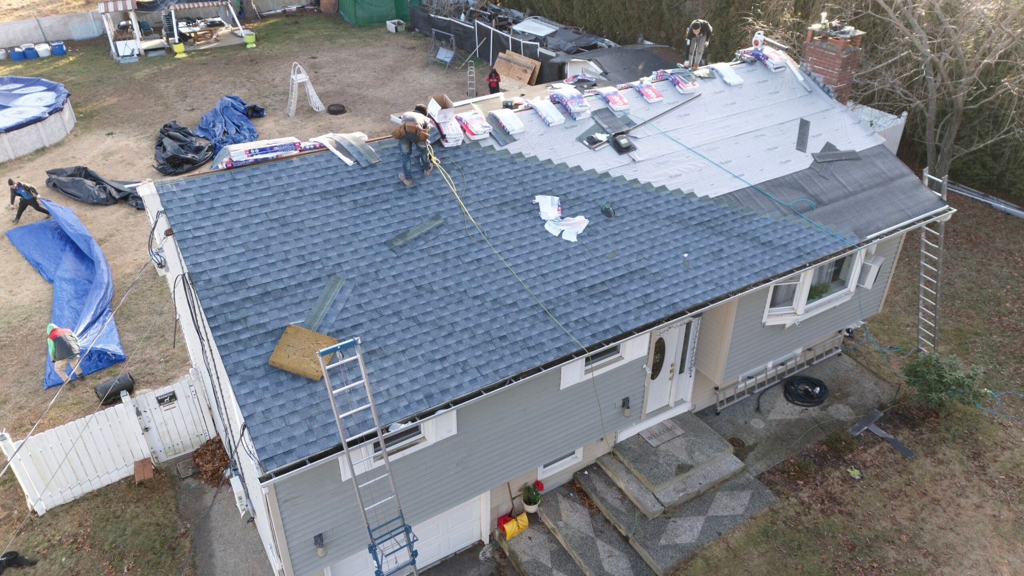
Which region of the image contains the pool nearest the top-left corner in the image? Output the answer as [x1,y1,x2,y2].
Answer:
[0,73,79,165]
